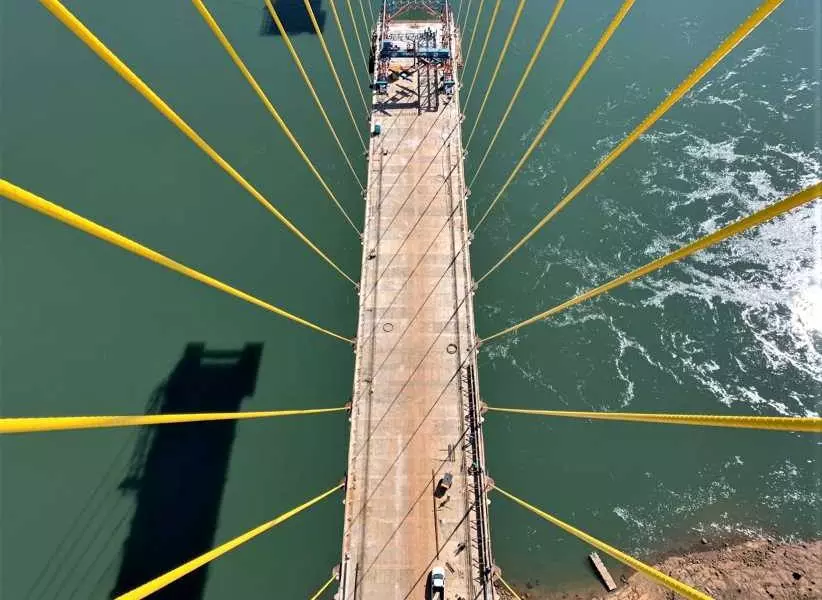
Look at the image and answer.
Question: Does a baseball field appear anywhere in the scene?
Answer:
No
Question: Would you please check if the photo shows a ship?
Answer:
No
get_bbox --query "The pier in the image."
[589,552,616,590]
